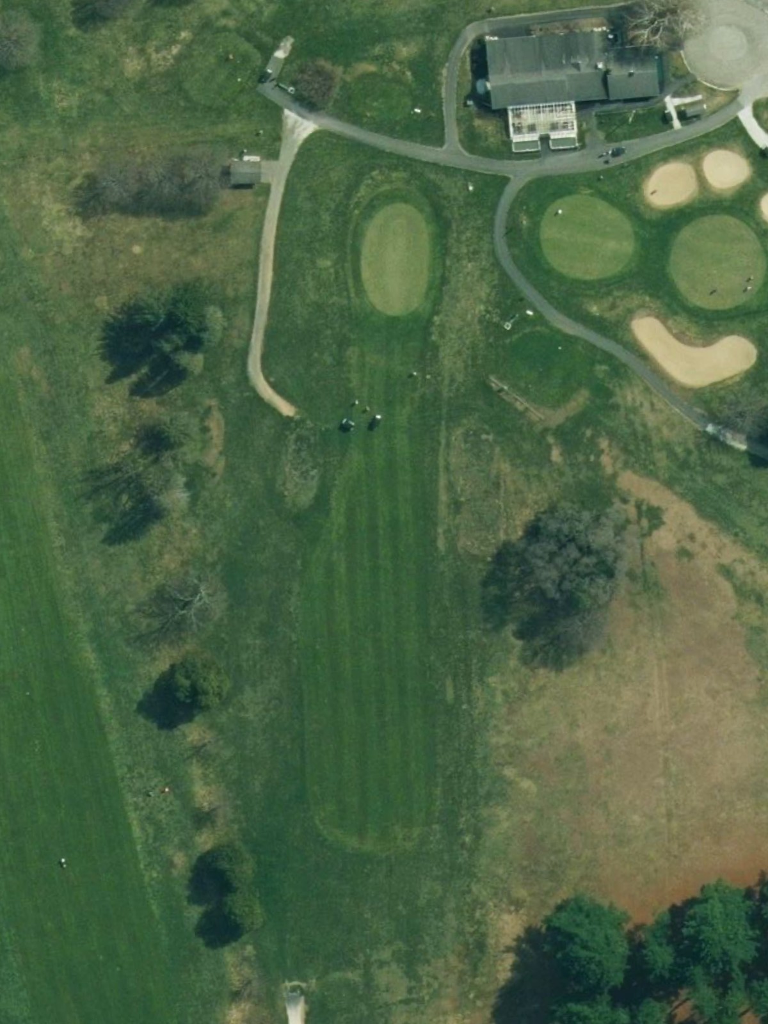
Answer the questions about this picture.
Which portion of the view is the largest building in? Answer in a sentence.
The largest building appears toward the top right of the photo.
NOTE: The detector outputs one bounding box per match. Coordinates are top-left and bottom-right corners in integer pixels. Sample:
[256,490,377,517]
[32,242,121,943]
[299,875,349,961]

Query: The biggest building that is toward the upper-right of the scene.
[486,29,666,112]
